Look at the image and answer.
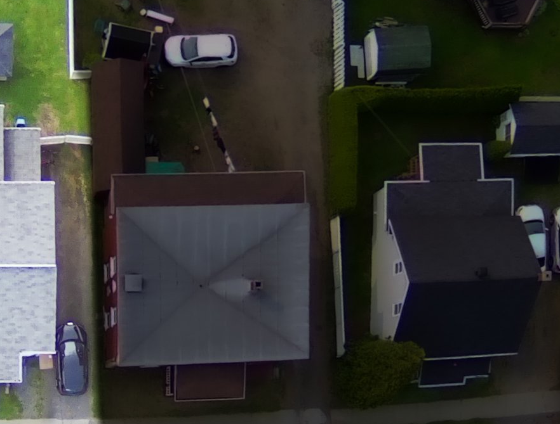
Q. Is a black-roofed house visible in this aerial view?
Yes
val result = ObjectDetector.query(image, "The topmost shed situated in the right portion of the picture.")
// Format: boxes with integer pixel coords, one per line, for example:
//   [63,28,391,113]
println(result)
[351,27,431,87]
